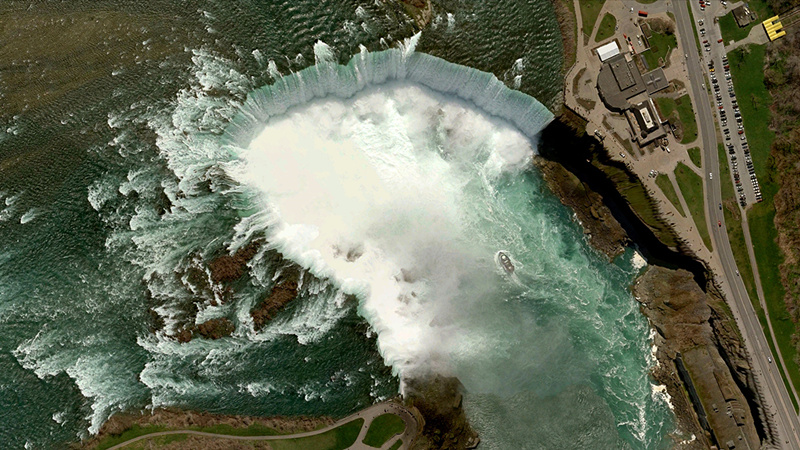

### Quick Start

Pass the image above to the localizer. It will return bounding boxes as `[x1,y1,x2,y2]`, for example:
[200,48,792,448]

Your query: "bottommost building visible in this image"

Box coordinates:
[681,348,762,450]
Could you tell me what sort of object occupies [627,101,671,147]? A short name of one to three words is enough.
house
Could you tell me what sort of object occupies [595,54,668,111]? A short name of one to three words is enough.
building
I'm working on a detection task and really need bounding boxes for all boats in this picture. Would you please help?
[500,251,516,275]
